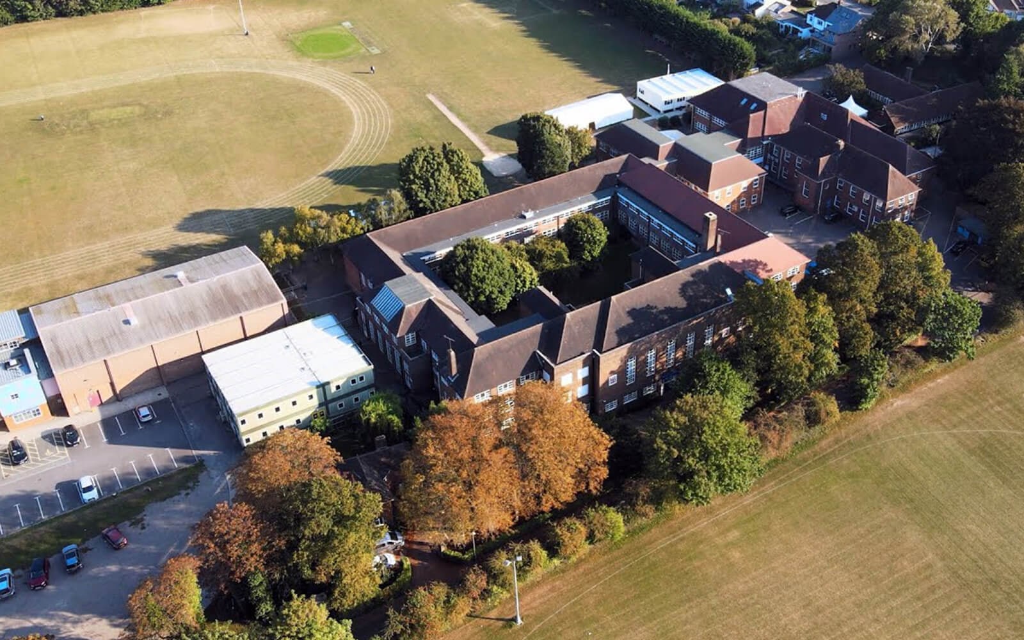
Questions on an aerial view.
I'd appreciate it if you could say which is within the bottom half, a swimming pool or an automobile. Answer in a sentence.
The one visible within the bottom half is an automobile.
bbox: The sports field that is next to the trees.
[454,323,1024,640]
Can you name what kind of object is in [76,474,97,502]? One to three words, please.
car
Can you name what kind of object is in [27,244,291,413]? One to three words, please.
building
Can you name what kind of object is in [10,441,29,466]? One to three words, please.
car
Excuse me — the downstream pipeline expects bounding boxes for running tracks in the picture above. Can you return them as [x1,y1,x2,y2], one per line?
[0,60,390,293]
